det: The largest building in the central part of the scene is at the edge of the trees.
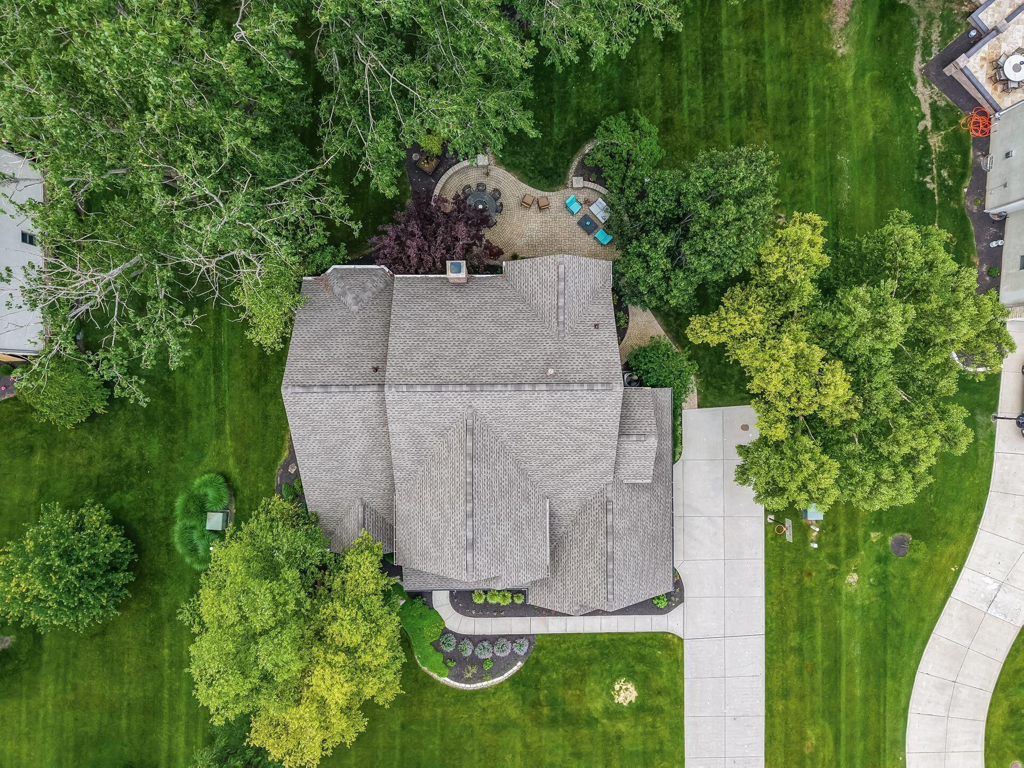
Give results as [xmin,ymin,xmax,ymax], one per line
[280,254,676,615]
